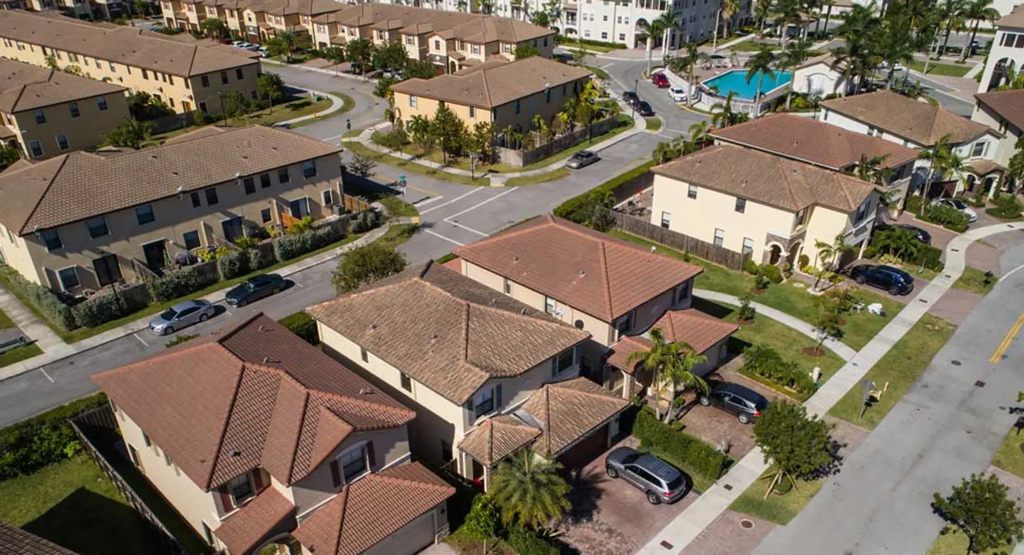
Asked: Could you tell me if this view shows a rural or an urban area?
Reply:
urban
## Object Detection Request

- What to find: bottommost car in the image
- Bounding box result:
[600,446,688,505]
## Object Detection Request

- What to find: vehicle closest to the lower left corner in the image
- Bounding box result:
[145,299,214,335]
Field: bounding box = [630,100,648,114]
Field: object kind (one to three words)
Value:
car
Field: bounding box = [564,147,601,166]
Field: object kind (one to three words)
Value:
car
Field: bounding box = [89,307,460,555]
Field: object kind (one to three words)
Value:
house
